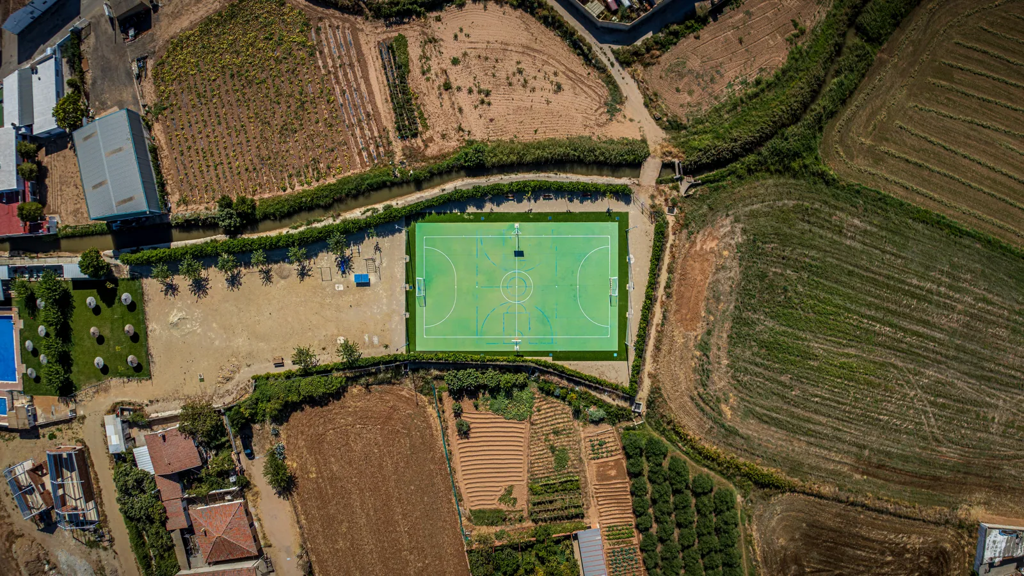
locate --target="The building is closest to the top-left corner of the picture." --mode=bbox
[2,0,76,40]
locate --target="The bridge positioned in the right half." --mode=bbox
[639,155,663,186]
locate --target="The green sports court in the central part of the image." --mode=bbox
[416,222,619,351]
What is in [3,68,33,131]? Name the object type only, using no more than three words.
building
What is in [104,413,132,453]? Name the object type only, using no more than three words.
shed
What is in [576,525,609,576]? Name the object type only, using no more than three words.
shed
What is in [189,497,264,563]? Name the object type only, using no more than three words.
house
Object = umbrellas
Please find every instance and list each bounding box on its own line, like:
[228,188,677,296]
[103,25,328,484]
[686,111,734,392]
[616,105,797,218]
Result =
[85,295,96,306]
[93,357,104,367]
[38,354,48,364]
[124,324,134,335]
[36,326,47,336]
[26,367,37,378]
[127,355,138,365]
[121,293,132,304]
[89,326,100,337]
[23,341,34,352]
